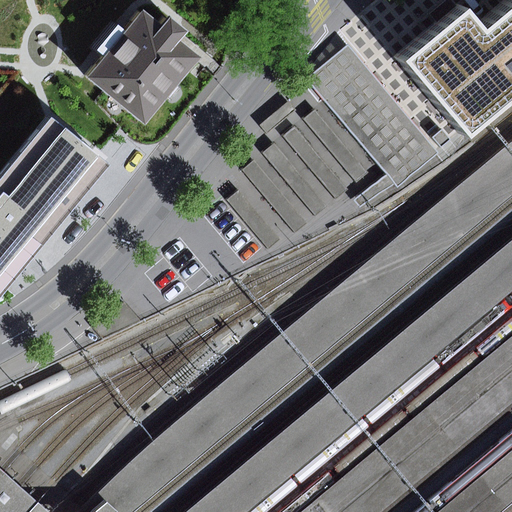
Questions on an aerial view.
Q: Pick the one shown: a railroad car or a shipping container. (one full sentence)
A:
There is a railroad car in the scene.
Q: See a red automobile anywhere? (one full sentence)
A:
Yes, this view includes a red automobile.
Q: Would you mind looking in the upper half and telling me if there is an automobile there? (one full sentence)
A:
Yes, looking in the upper half, one can make out an automobile.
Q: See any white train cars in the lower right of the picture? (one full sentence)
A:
Yes, I can see a white train car in the lower right of the picture.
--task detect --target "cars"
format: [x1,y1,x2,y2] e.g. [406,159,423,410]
[214,210,236,230]
[172,248,194,268]
[164,280,186,302]
[208,200,229,221]
[84,329,100,342]
[238,240,260,262]
[125,149,144,172]
[180,258,202,279]
[62,222,82,242]
[164,238,187,259]
[222,222,244,242]
[230,231,252,252]
[155,269,176,289]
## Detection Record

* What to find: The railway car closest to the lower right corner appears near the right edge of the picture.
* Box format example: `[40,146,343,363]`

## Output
[438,426,512,502]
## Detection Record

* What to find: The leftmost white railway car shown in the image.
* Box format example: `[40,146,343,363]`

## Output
[0,371,72,412]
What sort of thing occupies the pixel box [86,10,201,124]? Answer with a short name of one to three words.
house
